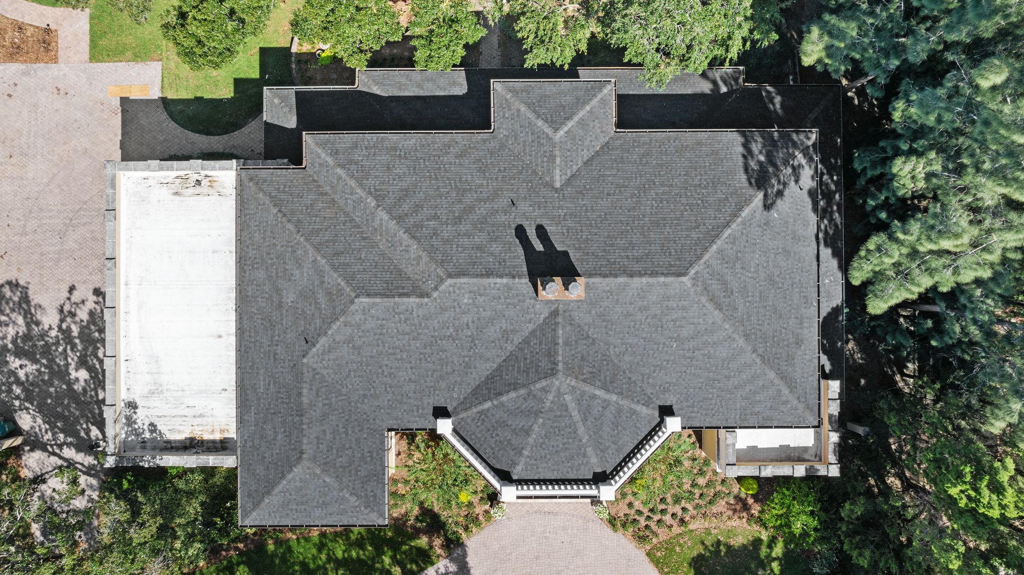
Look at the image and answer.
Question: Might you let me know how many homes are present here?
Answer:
1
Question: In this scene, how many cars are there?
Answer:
0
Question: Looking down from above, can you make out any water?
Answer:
No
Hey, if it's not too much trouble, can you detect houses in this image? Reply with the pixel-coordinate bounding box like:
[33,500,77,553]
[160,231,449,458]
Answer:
[91,67,843,529]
